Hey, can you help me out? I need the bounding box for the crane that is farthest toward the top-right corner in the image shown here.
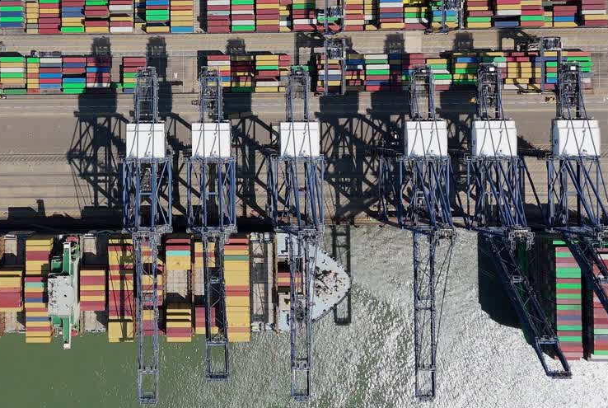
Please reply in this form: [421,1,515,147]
[515,35,563,95]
